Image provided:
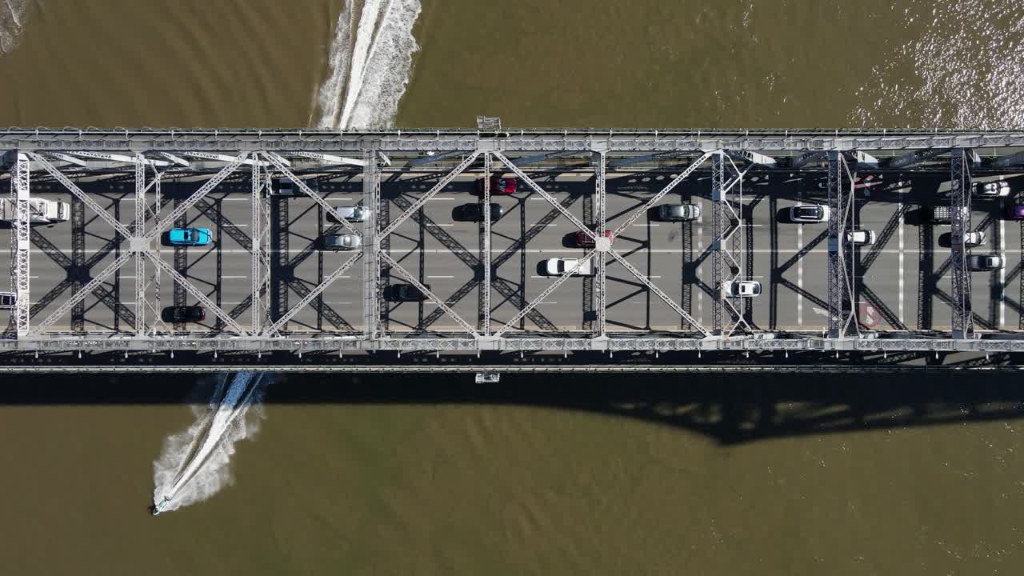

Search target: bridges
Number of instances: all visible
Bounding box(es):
[0,123,1024,374]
